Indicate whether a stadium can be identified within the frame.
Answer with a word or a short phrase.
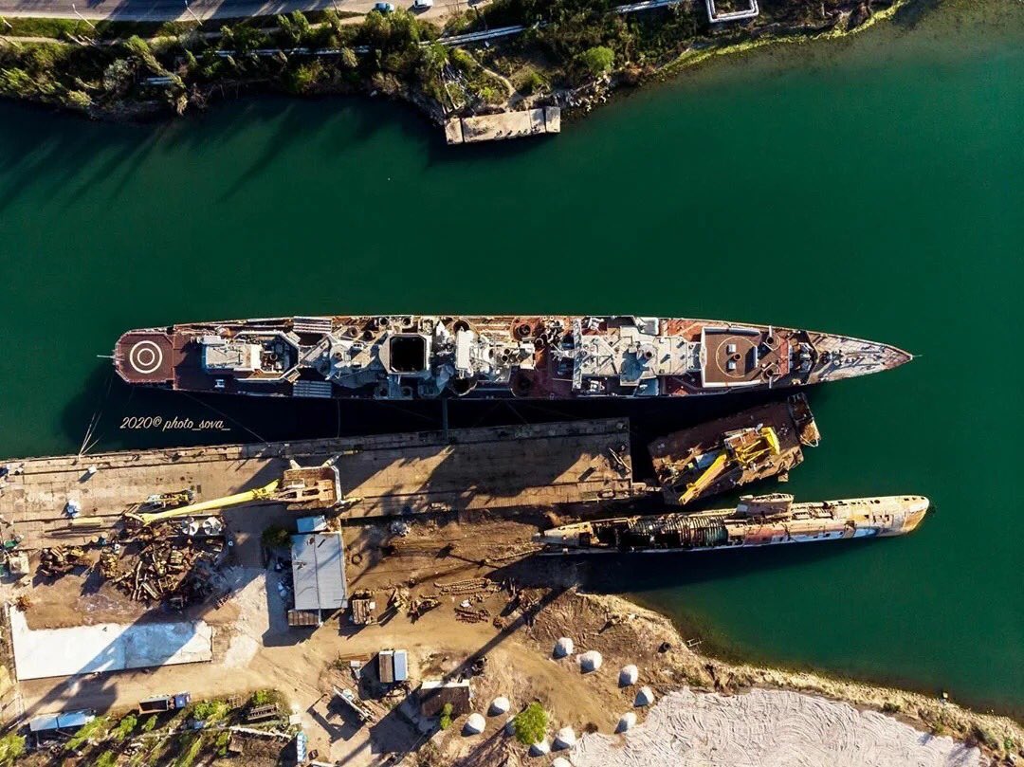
No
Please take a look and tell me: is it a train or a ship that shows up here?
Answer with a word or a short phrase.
ship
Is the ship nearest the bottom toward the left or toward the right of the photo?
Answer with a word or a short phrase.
right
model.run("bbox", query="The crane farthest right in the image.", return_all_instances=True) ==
[656,424,780,503]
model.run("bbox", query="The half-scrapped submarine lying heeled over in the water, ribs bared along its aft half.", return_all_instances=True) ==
[537,498,932,555]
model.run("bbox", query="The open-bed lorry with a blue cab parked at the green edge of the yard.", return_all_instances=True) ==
[135,697,187,718]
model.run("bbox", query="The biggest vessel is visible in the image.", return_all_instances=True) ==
[98,314,920,399]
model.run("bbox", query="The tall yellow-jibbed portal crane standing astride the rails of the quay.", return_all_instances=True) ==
[125,450,373,523]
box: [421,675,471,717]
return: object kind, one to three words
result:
shed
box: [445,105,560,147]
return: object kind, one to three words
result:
pier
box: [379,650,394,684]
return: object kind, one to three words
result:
shed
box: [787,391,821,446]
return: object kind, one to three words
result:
ship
